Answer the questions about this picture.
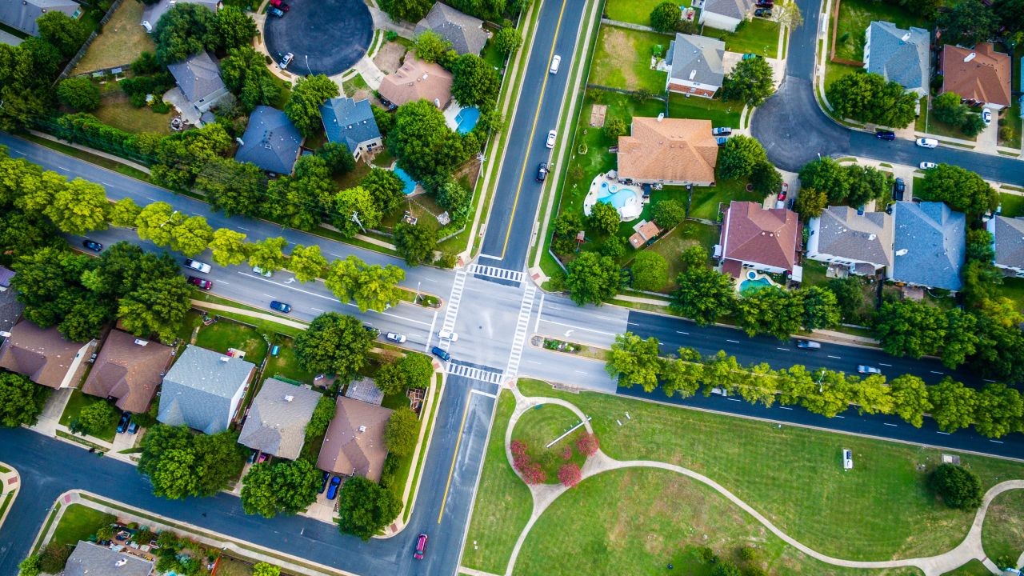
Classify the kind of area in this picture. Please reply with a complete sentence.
It's a residential area.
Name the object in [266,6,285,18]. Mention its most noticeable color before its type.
blue vehicle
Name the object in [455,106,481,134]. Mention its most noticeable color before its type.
blue swimming pool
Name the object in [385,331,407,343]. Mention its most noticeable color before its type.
white vehicle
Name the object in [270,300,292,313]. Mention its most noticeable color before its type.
blue vehicle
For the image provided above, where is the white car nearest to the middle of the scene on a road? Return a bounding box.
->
[437,330,458,342]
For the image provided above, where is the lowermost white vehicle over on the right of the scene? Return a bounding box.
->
[841,447,854,471]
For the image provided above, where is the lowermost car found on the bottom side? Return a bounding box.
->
[414,534,427,558]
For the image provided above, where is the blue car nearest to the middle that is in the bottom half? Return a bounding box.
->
[430,345,451,360]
